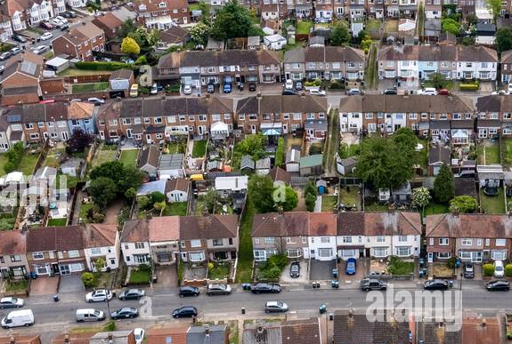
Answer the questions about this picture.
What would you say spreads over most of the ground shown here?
buildings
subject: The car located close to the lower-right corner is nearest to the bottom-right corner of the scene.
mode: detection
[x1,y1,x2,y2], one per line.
[485,279,511,292]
